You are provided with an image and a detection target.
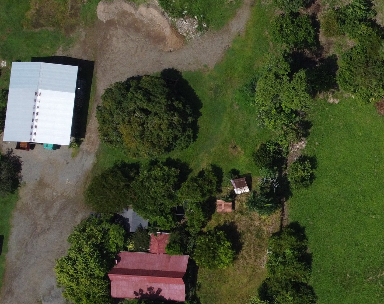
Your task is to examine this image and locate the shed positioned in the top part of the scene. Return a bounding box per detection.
[3,62,89,145]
